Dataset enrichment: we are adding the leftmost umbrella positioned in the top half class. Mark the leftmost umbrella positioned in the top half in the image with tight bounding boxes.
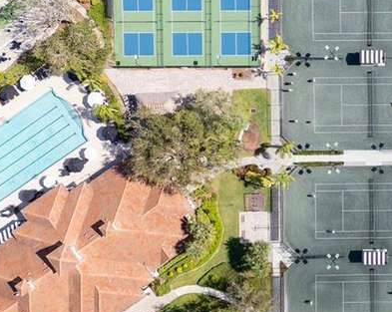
[1,87,18,102]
